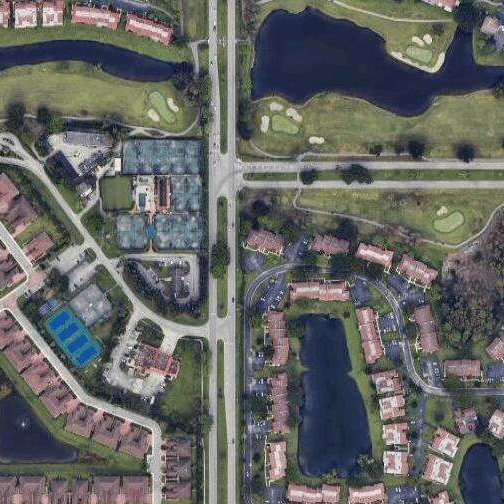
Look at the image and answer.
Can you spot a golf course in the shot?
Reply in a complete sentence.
Yes, the frame does contain a golf course.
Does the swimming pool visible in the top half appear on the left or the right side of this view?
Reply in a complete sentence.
The swimming pool visible in the top half sits on the left side.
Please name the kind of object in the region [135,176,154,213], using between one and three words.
swimming pool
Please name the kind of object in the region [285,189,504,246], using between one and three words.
golf course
